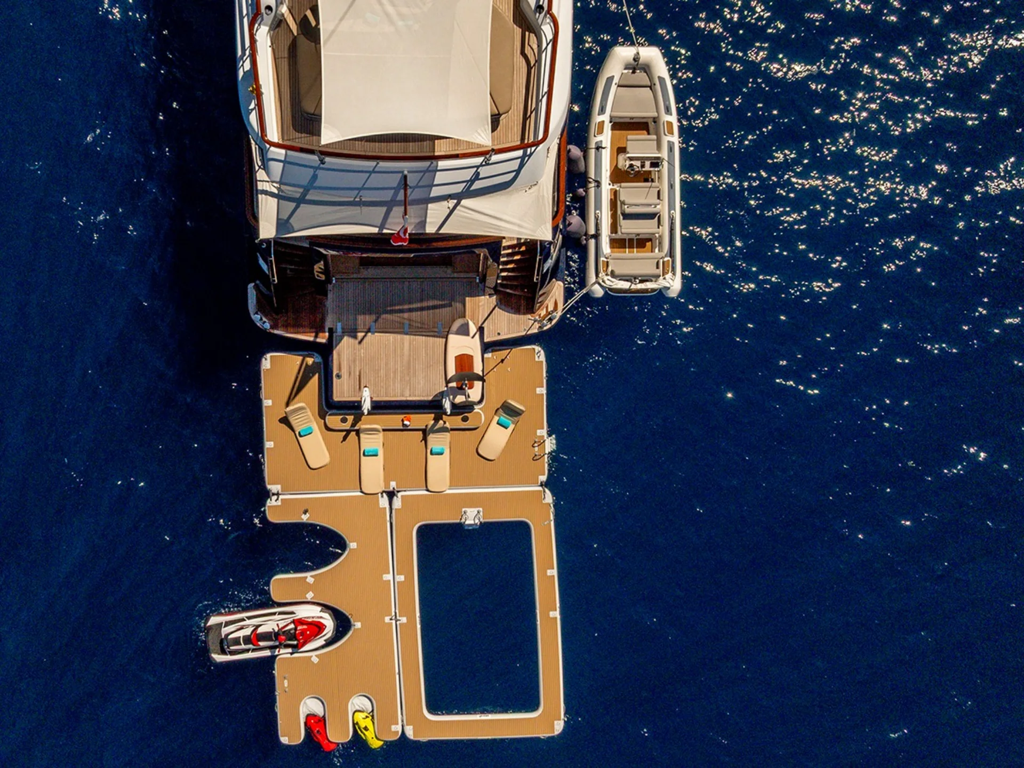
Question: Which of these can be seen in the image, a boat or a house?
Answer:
boat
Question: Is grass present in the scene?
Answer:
No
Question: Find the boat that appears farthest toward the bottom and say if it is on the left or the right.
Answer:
left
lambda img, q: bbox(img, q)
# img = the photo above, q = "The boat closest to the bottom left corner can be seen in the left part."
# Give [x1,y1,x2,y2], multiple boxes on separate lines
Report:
[205,602,338,663]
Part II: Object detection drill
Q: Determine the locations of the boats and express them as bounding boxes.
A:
[586,45,681,300]
[238,0,573,407]
[205,602,338,663]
